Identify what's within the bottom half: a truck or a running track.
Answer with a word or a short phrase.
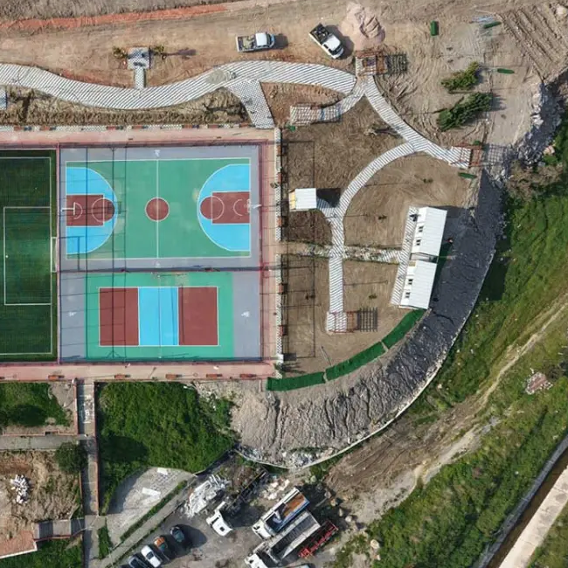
truck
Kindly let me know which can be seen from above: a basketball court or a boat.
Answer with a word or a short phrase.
basketball court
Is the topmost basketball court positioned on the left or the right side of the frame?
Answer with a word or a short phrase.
left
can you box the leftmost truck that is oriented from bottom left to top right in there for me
[209,466,271,537]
